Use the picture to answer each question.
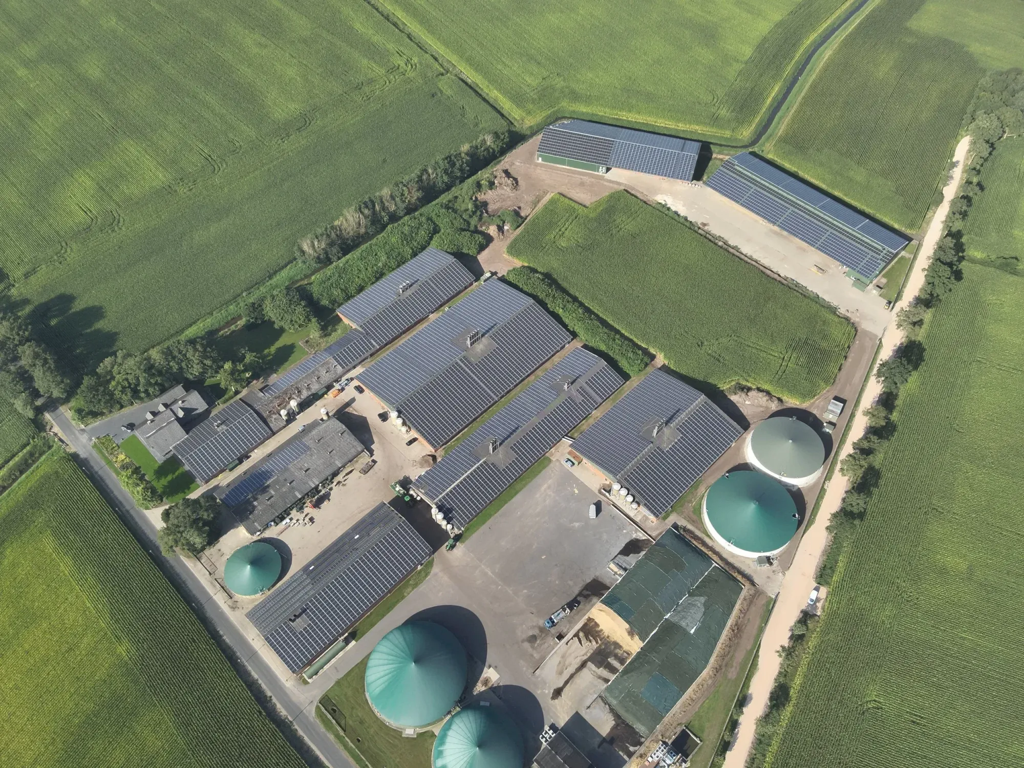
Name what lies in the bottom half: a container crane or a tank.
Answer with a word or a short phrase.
tank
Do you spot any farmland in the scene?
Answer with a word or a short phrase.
Yes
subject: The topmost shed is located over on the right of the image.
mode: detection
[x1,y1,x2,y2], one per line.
[536,120,700,187]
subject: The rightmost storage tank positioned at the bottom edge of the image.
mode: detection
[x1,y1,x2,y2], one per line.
[430,704,528,768]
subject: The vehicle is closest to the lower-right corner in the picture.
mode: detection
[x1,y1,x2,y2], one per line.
[807,588,819,604]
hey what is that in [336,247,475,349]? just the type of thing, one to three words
barn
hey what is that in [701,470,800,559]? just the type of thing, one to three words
storage tank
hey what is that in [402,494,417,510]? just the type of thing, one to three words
work vehicle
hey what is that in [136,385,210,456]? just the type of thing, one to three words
house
